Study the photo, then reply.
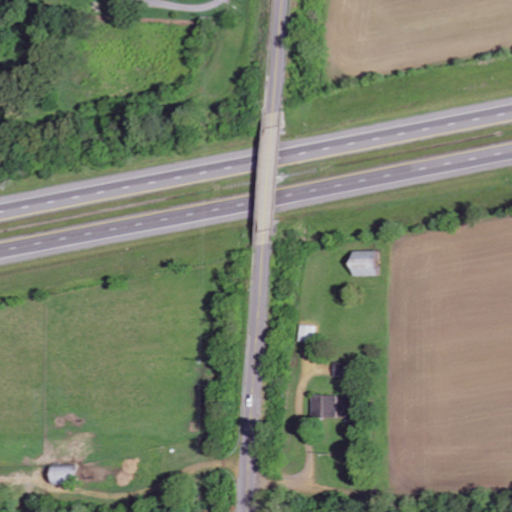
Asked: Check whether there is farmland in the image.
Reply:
Yes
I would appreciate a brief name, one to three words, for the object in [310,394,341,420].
house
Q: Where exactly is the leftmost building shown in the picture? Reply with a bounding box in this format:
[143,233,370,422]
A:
[47,464,81,486]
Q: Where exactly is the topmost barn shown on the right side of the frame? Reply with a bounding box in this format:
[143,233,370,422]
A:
[347,250,379,276]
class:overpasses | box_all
[252,112,287,244]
